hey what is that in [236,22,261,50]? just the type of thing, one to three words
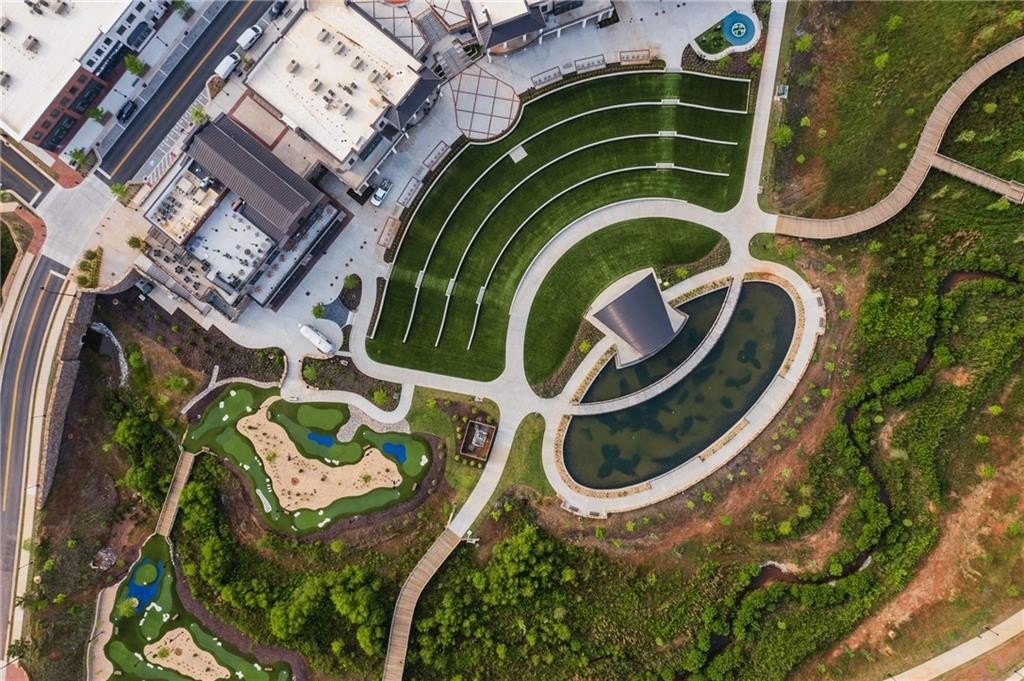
car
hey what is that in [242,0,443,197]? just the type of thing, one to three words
building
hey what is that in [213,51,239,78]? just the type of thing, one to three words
car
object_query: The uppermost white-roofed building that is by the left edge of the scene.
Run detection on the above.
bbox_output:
[0,0,176,155]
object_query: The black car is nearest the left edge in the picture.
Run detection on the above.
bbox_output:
[113,98,137,123]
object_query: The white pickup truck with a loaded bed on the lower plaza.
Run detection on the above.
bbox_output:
[369,180,392,209]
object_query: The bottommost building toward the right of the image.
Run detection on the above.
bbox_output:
[583,268,690,370]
